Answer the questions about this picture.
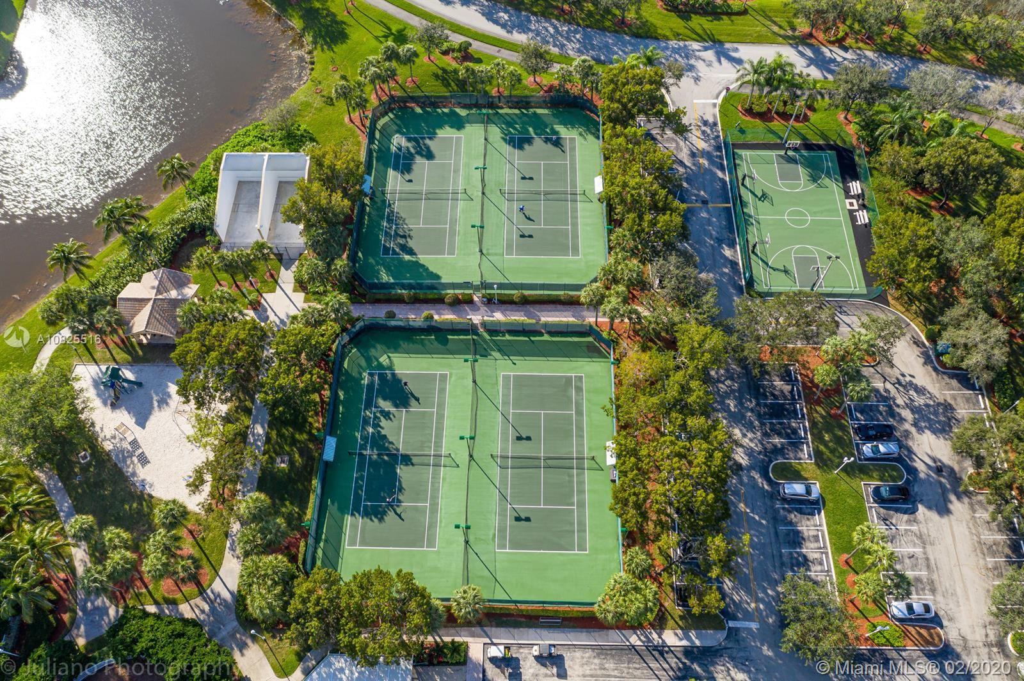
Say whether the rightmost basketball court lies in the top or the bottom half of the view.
top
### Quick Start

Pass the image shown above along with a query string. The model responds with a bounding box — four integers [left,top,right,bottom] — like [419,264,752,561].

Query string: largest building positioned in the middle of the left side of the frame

[116,267,207,347]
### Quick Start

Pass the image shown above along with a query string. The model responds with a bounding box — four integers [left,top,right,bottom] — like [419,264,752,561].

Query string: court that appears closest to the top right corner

[731,143,890,305]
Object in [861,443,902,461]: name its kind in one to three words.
car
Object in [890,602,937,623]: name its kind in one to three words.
car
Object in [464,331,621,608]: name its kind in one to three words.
tennis court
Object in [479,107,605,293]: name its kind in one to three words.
tennis court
